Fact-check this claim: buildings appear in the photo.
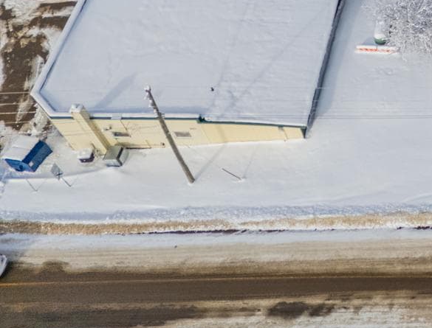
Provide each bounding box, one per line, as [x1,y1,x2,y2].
[0,128,58,180]
[28,0,342,153]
